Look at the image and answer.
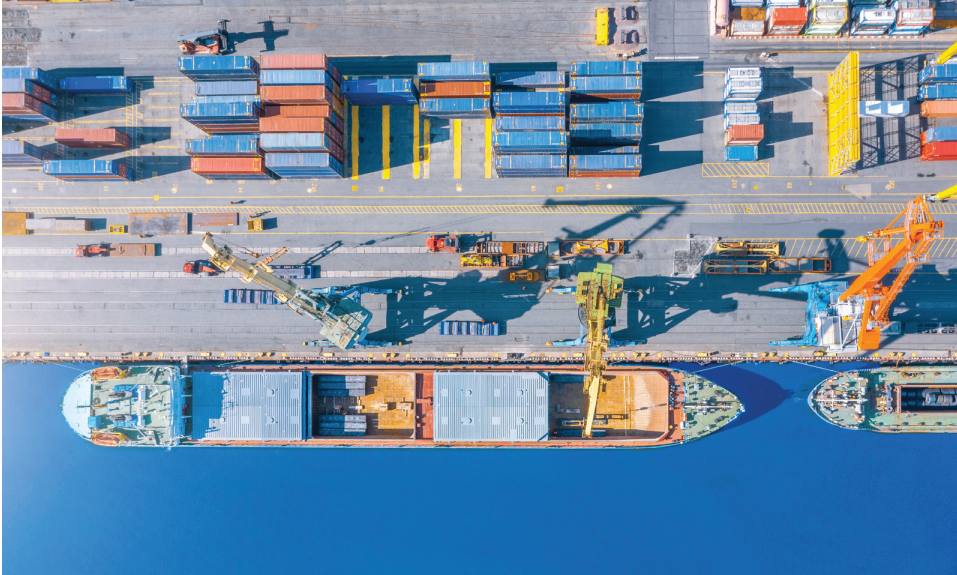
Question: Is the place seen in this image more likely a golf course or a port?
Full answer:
This looks like a port.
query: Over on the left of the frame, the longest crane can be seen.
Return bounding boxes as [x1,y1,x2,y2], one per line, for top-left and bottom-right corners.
[189,226,407,358]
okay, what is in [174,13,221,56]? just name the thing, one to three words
work vehicle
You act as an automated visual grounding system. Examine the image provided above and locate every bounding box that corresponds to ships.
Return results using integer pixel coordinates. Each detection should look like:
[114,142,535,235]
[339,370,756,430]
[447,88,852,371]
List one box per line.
[805,356,957,434]
[61,363,745,448]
